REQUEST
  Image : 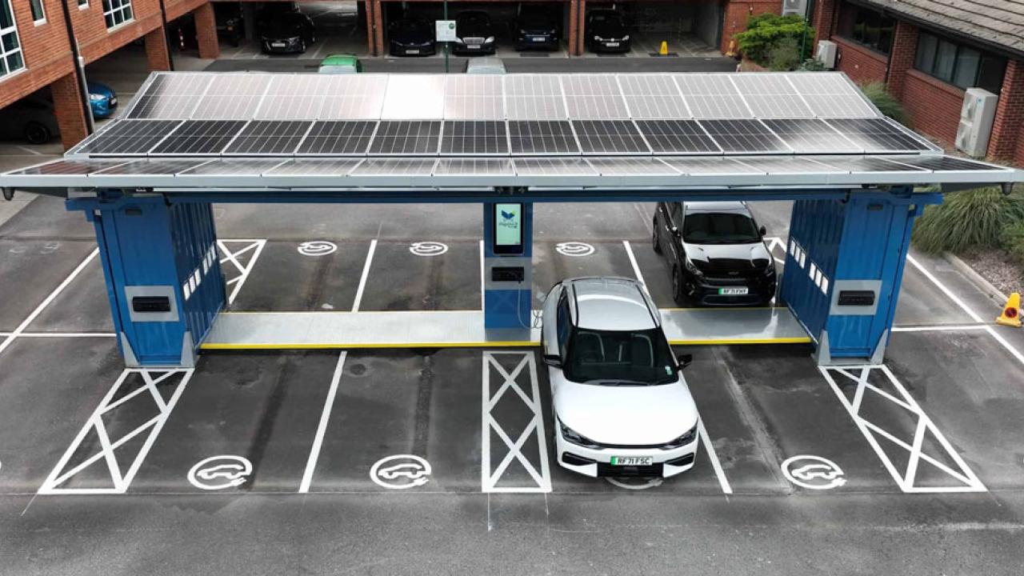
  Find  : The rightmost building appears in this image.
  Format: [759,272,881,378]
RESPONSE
[830,0,1024,170]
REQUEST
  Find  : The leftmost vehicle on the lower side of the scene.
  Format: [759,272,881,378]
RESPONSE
[537,277,700,480]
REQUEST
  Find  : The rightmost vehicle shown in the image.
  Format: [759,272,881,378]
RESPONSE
[659,200,784,305]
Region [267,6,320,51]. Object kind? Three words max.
car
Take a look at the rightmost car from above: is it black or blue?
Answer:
black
